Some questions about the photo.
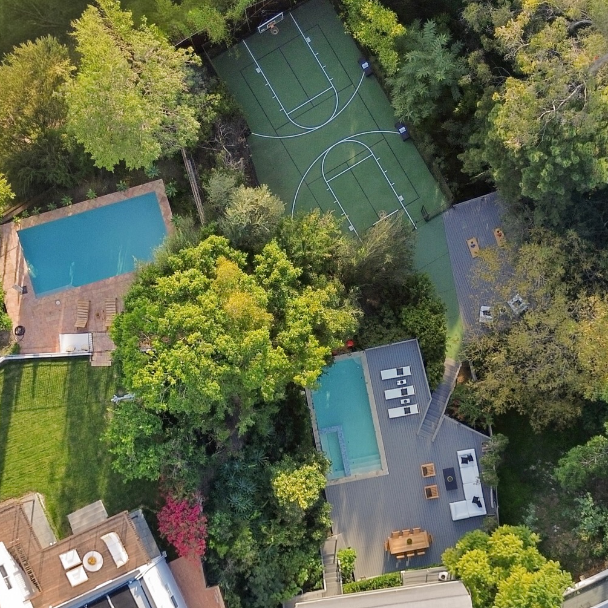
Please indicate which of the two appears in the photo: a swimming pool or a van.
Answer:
swimming pool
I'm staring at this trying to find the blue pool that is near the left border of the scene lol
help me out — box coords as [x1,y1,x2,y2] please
[2,181,171,310]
